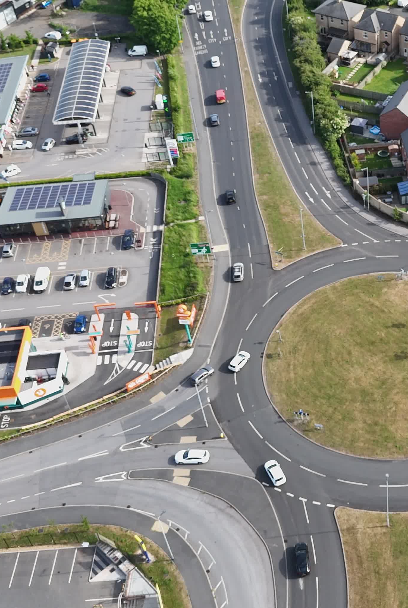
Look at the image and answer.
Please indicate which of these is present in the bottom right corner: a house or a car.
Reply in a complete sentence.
What appears in the bottom right corner is a car.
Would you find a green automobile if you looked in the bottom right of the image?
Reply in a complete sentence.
No, looking in the bottom right of the image, there is no green automobile.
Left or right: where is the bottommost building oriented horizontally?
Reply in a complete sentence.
The bottommost building oriented horizontally sits on the left side.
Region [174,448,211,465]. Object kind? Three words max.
car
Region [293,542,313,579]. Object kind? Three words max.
car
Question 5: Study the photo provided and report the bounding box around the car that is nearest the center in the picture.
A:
[231,262,245,283]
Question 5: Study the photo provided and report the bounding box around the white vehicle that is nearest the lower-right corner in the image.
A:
[263,460,288,486]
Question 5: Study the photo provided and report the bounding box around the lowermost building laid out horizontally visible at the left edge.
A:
[0,166,115,233]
